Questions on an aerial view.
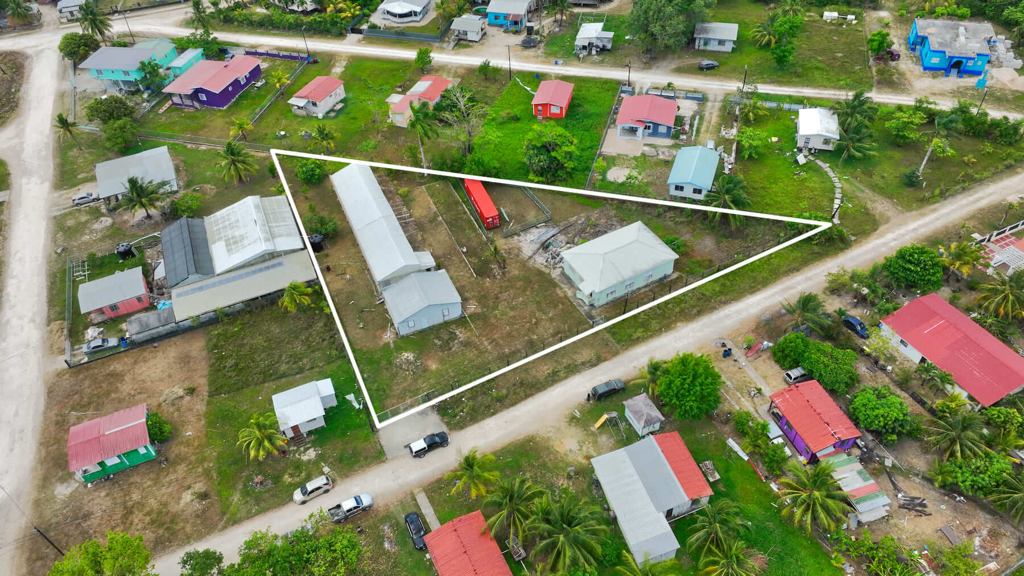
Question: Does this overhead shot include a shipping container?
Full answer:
Yes, you can see a shipping container in this photo.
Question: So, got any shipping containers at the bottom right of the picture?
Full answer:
No, looking at the bottom right of the picture, there is no shipping container.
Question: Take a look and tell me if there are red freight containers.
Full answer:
Yes, looking at the shot, I can spot a red freight container.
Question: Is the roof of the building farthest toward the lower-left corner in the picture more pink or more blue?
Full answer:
The roof of the building farthest toward the lower-left corner looks pink in the image.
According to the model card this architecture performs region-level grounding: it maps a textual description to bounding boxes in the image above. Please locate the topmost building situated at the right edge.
[906,17,997,86]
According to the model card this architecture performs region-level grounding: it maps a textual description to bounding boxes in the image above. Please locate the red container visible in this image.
[463,173,500,230]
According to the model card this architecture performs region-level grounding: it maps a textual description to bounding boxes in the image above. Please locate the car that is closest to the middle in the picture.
[590,379,627,400]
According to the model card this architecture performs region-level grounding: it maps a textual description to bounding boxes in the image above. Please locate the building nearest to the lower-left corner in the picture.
[65,403,156,480]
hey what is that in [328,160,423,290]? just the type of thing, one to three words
shed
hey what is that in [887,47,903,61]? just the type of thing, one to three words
car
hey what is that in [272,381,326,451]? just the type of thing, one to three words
house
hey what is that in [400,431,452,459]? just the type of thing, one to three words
truck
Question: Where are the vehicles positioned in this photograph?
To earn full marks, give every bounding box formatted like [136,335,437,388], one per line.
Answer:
[697,59,720,70]
[590,379,627,400]
[836,315,874,340]
[782,363,818,386]
[400,431,452,459]
[82,337,121,355]
[292,474,334,505]
[326,493,376,525]
[70,192,100,207]
[887,47,903,61]
[401,508,429,553]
